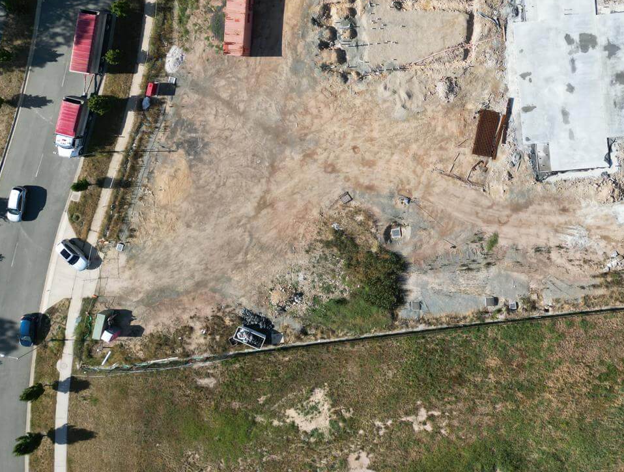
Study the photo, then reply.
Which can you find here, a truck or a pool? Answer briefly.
truck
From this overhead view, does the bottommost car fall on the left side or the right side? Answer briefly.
left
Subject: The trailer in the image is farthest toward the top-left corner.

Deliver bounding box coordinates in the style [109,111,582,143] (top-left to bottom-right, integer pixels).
[69,8,111,94]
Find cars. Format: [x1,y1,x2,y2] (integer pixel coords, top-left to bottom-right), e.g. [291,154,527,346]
[4,188,26,223]
[57,238,92,273]
[19,312,41,346]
